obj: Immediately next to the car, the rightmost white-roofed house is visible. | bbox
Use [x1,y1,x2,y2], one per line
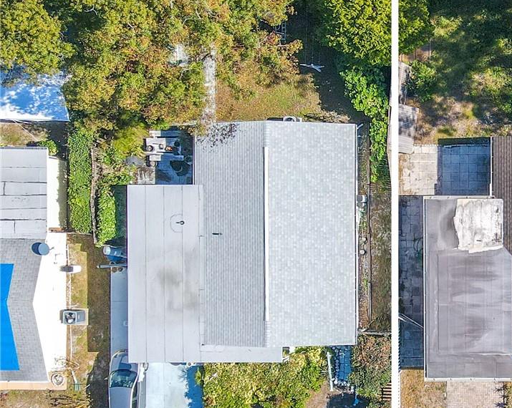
[99,121,362,362]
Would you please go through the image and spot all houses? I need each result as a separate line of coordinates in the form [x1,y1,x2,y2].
[423,136,512,382]
[0,146,67,382]
[99,121,362,362]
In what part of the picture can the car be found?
bottom left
